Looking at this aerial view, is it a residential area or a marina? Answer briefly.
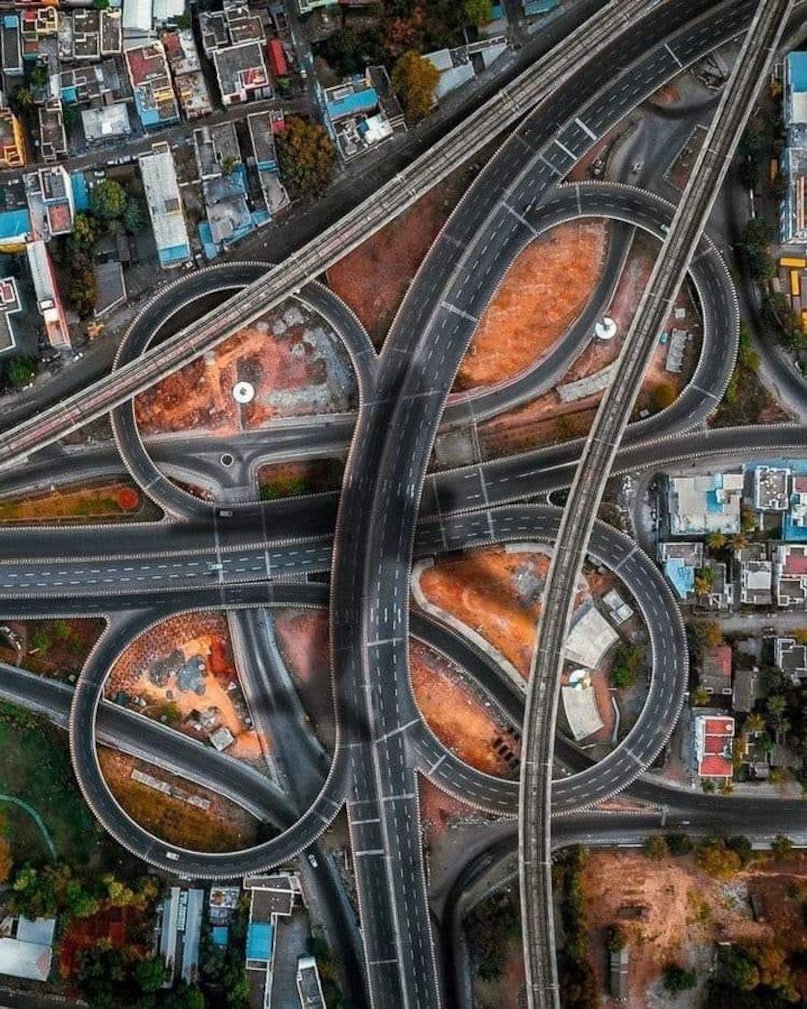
residential area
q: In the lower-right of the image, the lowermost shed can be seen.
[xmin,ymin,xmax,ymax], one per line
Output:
[608,940,630,999]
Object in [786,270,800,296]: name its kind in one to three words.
vehicle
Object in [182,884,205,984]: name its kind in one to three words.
shed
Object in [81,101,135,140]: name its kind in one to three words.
house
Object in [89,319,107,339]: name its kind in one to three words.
work vehicle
